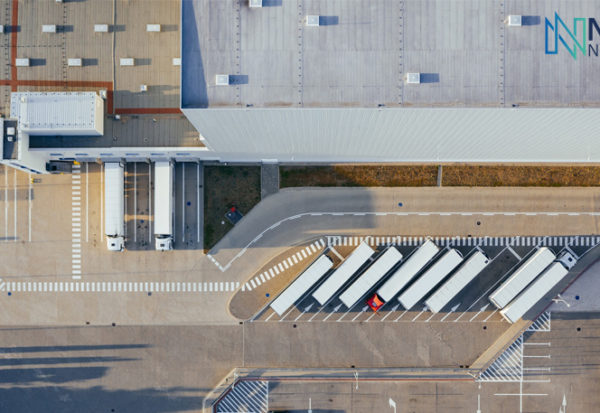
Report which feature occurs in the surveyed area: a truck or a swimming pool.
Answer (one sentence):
It is a truck that can be seen here.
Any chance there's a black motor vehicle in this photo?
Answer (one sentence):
No, I can see no black motor vehicle in this picture.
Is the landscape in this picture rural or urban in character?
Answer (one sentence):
The area is urban.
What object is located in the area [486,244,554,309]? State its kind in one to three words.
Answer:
trailer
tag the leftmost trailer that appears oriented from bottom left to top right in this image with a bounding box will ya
[270,254,336,316]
